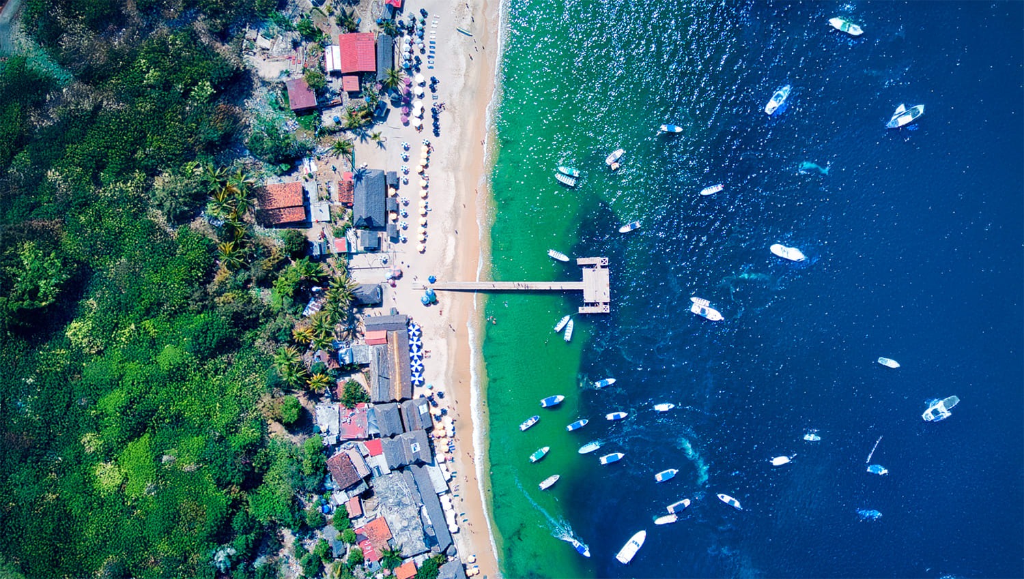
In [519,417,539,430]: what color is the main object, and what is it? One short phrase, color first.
white boat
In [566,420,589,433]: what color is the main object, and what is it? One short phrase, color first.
blue boat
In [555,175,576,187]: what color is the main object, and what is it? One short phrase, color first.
white boat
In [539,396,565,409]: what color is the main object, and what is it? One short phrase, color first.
blue boat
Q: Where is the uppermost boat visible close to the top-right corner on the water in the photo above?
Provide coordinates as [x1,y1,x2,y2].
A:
[826,16,864,33]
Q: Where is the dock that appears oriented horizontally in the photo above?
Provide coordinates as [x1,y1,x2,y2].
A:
[412,258,609,313]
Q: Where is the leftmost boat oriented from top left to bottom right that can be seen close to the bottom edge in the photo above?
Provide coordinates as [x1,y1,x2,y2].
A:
[571,539,590,557]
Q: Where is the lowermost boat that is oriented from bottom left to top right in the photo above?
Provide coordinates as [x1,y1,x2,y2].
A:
[616,530,645,566]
